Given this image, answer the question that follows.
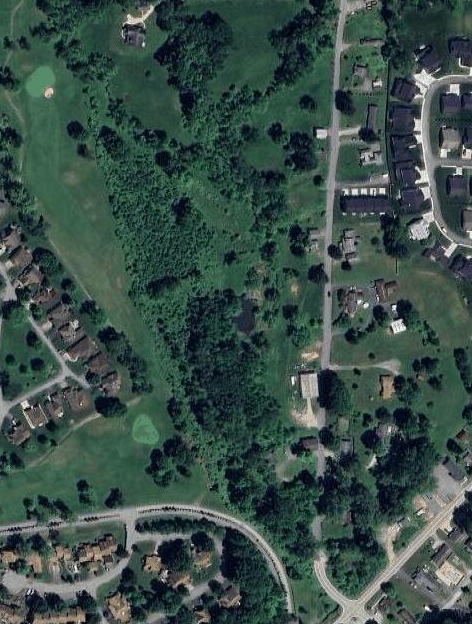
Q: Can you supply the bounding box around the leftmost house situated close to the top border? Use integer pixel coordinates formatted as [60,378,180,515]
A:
[120,23,145,47]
